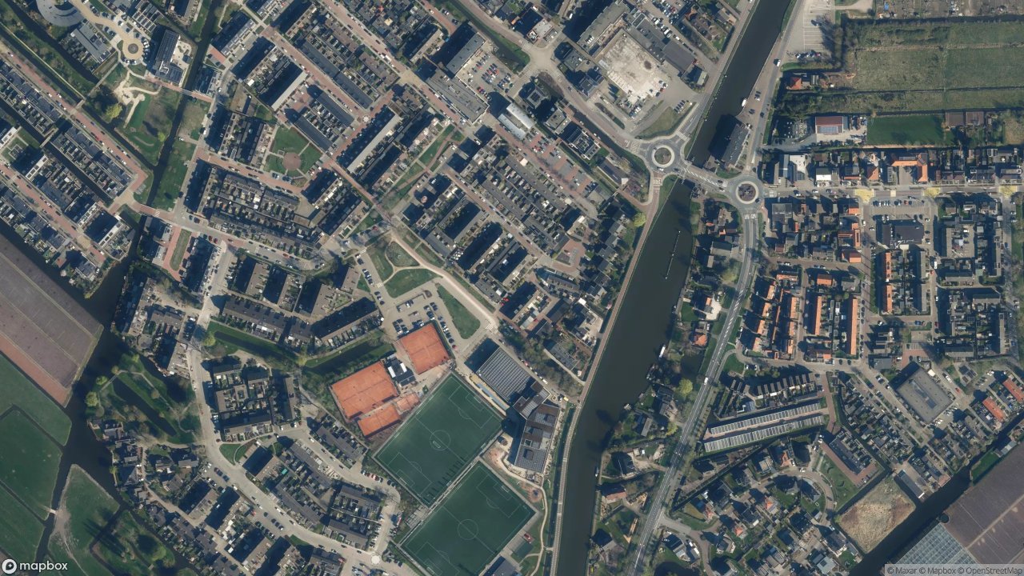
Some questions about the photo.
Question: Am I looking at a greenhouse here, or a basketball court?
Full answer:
The image shows a greenhouse.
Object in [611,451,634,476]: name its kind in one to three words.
house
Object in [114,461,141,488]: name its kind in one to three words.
house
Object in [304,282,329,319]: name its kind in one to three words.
building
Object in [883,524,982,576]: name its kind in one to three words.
greenhouse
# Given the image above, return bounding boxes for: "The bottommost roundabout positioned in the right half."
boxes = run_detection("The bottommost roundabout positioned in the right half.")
[729,174,765,210]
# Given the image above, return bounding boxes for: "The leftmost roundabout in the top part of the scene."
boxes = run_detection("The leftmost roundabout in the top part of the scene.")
[645,138,681,174]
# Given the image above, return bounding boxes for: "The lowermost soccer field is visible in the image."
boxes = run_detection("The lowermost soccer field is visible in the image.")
[401,461,535,576]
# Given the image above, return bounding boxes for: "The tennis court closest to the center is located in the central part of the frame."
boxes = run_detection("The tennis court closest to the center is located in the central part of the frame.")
[400,323,451,374]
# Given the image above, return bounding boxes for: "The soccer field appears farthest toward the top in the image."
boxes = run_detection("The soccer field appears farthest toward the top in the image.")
[373,369,507,508]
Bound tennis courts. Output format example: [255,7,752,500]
[395,391,420,411]
[359,405,401,436]
[400,323,451,374]
[331,361,400,418]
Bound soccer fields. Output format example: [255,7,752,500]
[401,461,535,576]
[373,369,507,508]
